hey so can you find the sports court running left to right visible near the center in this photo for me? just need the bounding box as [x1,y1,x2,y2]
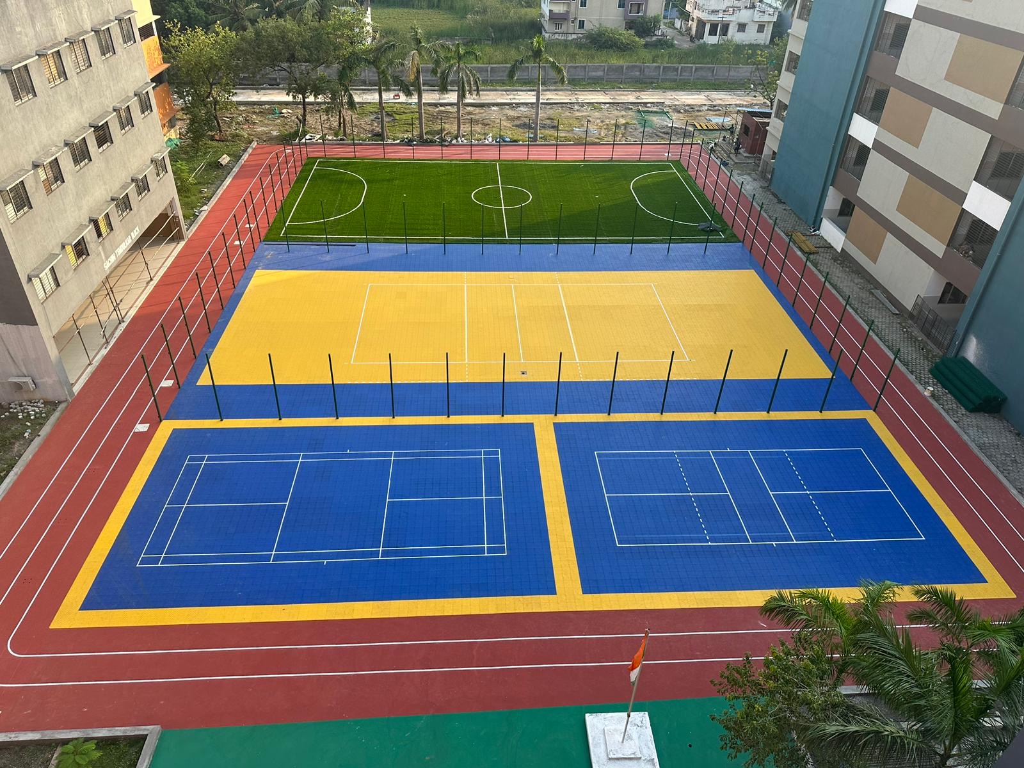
[163,242,873,421]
